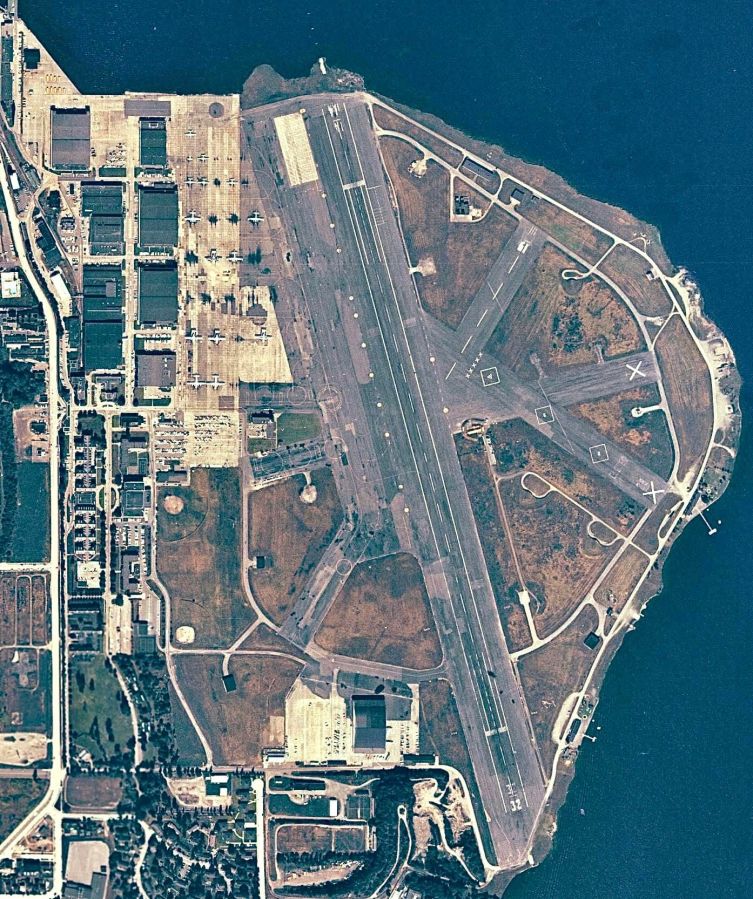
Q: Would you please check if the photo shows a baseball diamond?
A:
Yes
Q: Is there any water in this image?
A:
Yes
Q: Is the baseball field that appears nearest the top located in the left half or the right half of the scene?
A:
left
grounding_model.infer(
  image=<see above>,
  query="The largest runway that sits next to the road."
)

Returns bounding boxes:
[240,99,546,867]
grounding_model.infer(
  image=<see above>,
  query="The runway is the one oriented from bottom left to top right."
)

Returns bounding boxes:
[440,221,548,379]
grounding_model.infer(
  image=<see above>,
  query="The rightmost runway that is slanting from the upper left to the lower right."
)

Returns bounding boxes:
[420,299,665,509]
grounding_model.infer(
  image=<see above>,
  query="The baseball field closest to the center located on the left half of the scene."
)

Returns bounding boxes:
[156,486,210,543]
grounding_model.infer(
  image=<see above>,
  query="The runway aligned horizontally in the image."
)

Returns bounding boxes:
[520,350,656,408]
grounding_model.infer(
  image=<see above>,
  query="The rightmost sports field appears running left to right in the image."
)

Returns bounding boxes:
[277,827,365,852]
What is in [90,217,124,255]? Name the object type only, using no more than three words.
hangar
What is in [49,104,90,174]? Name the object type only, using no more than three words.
hangar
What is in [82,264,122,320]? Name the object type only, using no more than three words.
building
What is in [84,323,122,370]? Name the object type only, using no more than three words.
building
